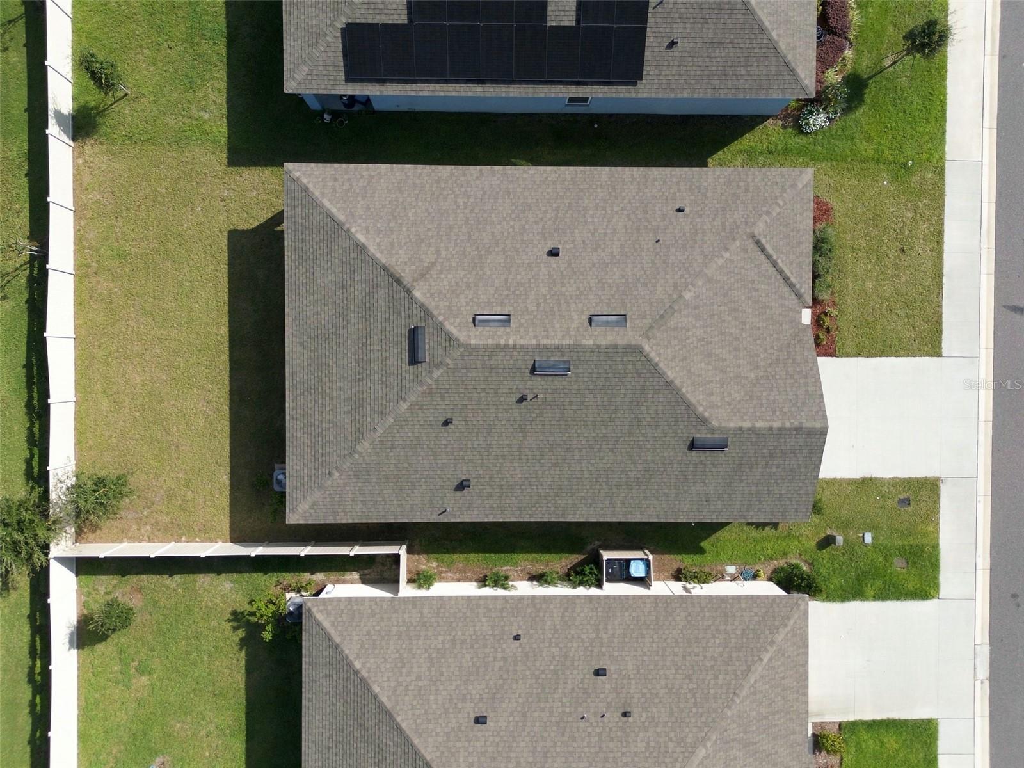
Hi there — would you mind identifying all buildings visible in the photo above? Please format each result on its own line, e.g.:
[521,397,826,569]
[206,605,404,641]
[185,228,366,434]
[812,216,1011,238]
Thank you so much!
[303,581,809,768]
[284,164,830,523]
[284,0,815,114]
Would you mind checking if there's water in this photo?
No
